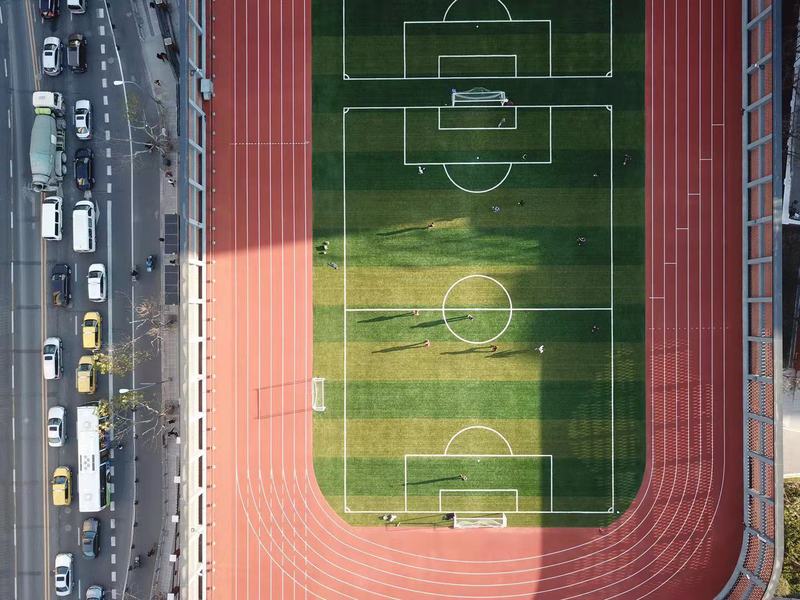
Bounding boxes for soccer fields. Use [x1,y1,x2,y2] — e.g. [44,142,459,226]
[312,0,646,91]
[312,91,647,527]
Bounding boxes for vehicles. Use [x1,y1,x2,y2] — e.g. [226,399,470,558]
[41,199,62,240]
[77,401,109,510]
[51,466,71,505]
[41,338,63,379]
[42,36,62,75]
[66,32,87,73]
[40,0,59,20]
[86,264,105,302]
[48,266,70,306]
[34,93,66,185]
[80,517,100,558]
[80,312,101,351]
[77,357,96,395]
[66,0,85,12]
[71,100,91,139]
[53,554,73,596]
[84,587,104,600]
[73,148,94,190]
[45,407,66,447]
[72,202,95,251]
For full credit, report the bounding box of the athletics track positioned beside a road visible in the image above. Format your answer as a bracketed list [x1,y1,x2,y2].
[206,0,742,600]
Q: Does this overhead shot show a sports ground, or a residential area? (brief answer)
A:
sports ground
